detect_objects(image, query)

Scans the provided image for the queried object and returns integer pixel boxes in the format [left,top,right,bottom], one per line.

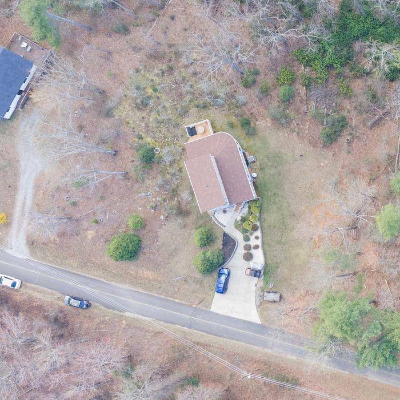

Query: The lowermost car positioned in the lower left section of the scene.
[65,295,94,310]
